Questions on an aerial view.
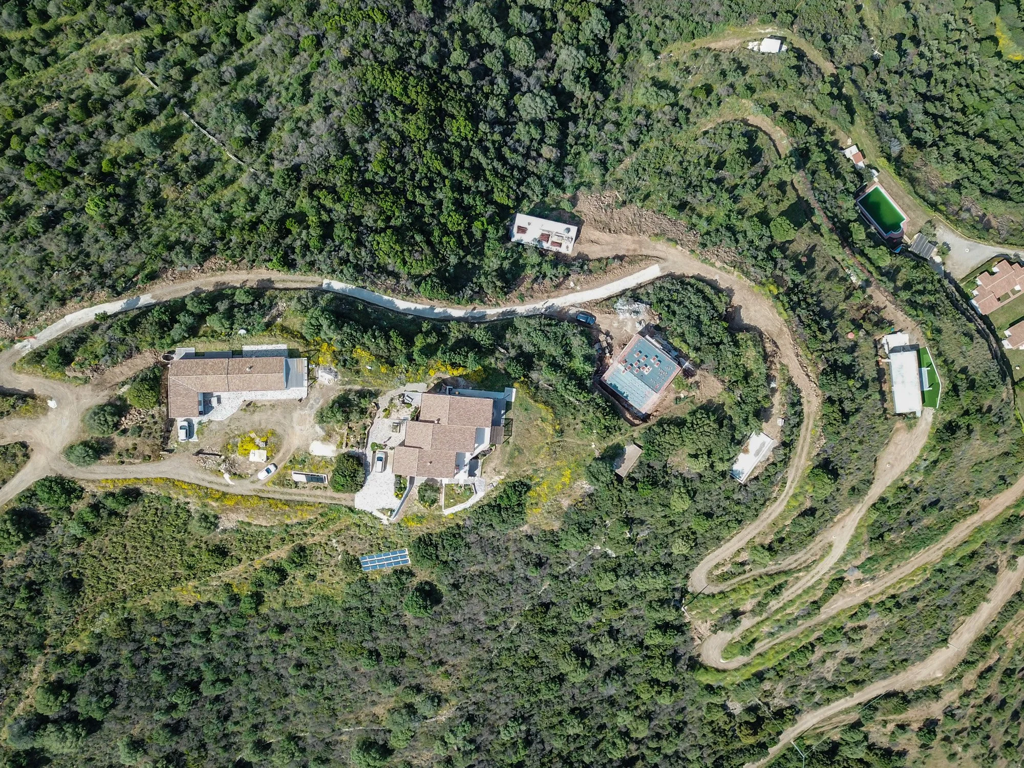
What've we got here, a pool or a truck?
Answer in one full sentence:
There is a pool in the scene.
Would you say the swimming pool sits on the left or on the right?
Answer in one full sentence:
The swimming pool appears in the right half of the scene.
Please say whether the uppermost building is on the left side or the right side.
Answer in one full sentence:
You can find the uppermost building on the right side of the picture.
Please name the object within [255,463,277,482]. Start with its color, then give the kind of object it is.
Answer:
white car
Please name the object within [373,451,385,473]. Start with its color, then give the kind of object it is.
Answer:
white vehicle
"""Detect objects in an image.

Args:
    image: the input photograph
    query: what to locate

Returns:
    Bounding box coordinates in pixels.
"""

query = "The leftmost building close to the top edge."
[756,38,781,59]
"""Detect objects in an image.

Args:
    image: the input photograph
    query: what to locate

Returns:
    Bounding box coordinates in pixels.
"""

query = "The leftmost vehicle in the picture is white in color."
[175,421,188,442]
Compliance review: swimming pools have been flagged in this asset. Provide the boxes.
[853,180,911,243]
